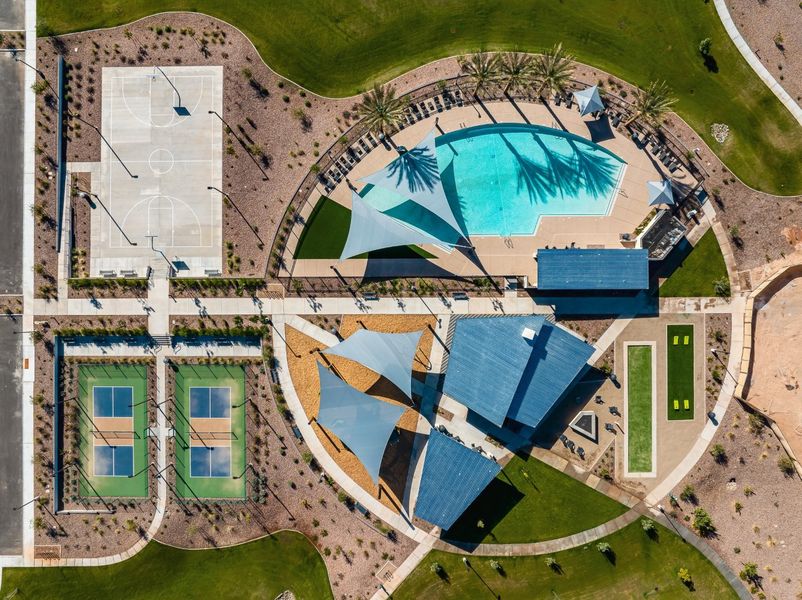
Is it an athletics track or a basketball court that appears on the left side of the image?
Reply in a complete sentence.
It is a basketball court that can be seen on the left side of the image.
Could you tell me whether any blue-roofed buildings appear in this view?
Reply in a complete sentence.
Yes, there's a blue-roofed building down there.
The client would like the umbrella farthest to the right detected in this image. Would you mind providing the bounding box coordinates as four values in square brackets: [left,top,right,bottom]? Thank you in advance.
[647,180,674,206]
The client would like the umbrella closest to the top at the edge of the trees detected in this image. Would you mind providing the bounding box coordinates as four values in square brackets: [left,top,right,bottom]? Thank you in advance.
[573,85,605,117]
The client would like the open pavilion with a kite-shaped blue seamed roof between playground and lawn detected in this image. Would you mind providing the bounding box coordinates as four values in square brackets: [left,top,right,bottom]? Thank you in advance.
[414,428,502,530]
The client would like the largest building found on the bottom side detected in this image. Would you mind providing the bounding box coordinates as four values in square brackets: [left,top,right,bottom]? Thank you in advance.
[443,316,596,428]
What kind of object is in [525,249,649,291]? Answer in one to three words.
building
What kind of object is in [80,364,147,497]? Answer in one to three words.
sports court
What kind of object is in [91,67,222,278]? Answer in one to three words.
basketball court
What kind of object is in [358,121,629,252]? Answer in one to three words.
swimming pool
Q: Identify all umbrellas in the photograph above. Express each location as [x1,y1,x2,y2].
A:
[647,180,674,206]
[573,85,605,117]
